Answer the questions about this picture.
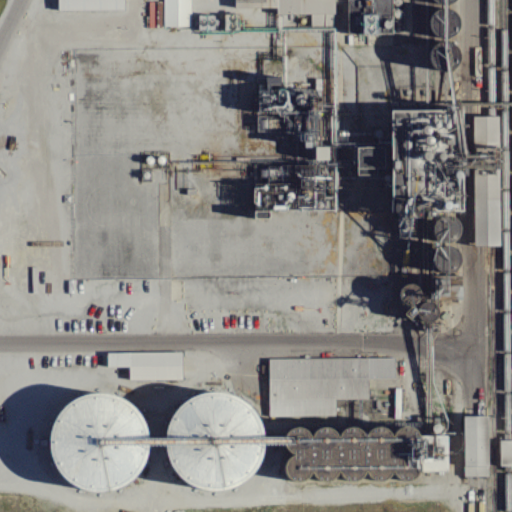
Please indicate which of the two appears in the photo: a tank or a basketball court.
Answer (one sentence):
This aerial view contains a tank.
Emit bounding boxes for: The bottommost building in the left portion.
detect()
[108,352,182,381]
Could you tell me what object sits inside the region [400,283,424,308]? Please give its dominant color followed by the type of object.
gray silo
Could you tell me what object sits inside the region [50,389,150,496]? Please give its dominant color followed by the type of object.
white storage tank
